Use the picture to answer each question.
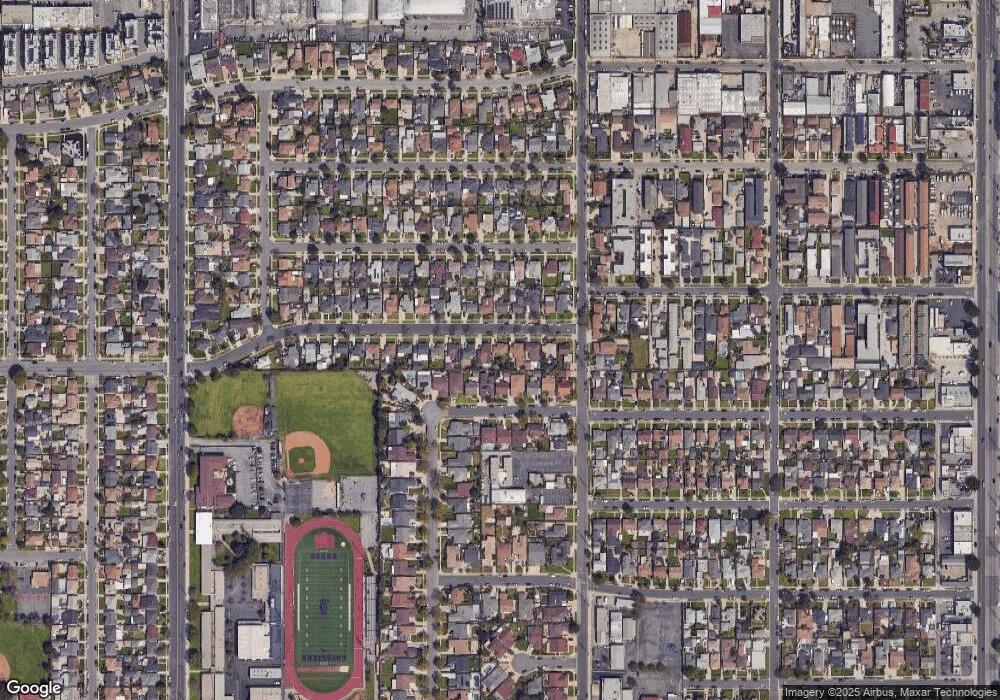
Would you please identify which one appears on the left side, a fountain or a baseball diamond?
baseball diamond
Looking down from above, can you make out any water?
No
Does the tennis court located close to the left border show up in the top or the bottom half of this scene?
bottom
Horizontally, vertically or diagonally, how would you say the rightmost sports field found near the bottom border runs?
vertically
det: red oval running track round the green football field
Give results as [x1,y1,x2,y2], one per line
[285,517,364,700]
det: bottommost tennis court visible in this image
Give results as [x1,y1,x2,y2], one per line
[17,577,50,618]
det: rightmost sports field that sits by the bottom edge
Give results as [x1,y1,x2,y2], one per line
[295,528,354,691]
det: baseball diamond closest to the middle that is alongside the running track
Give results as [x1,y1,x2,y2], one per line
[277,372,377,479]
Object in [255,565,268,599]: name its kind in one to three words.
building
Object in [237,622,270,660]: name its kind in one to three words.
building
